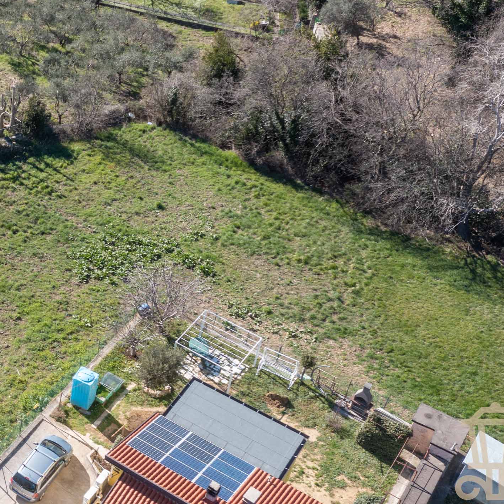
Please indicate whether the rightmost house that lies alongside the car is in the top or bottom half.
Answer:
bottom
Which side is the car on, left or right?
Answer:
left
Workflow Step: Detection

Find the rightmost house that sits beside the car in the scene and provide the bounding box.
[99,378,335,504]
